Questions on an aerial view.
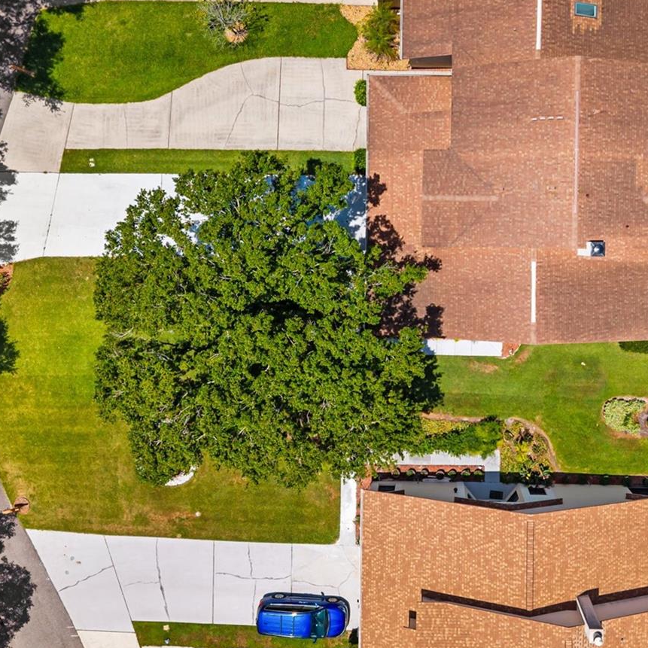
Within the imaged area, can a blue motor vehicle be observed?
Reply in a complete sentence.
Yes, the image includes a blue motor vehicle.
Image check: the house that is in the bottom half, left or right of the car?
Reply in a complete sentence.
Looking at the photo, the house that is in the bottom half lies to the right of the car.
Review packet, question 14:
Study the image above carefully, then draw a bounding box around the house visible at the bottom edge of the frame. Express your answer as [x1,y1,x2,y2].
[360,481,648,648]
